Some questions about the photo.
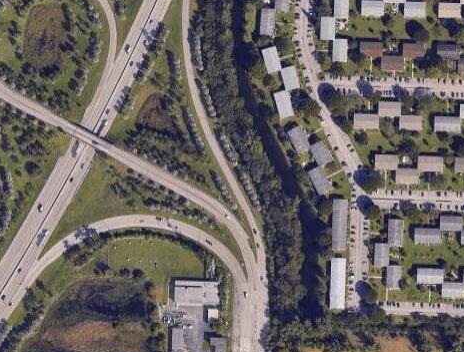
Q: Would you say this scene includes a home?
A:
Yes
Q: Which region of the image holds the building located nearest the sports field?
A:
bottom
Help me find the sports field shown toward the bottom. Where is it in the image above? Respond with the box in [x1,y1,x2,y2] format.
[108,237,203,282]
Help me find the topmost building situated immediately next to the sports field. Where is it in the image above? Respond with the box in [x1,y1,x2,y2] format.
[175,280,219,305]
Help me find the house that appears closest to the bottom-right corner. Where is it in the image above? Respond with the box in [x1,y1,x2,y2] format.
[443,283,464,298]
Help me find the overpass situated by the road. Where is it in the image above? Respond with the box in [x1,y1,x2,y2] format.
[50,111,131,158]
